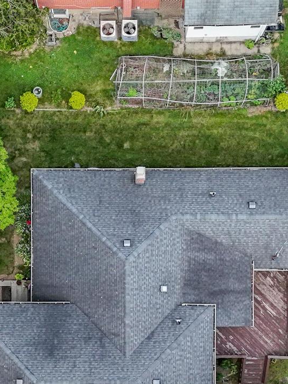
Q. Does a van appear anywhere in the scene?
No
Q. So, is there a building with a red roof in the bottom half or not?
No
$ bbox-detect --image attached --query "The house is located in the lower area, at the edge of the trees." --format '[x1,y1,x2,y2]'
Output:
[0,166,288,384]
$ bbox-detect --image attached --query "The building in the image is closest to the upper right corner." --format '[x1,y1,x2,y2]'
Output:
[184,0,281,43]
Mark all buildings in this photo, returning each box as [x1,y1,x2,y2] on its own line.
[0,166,288,384]
[34,0,184,18]
[184,0,281,43]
